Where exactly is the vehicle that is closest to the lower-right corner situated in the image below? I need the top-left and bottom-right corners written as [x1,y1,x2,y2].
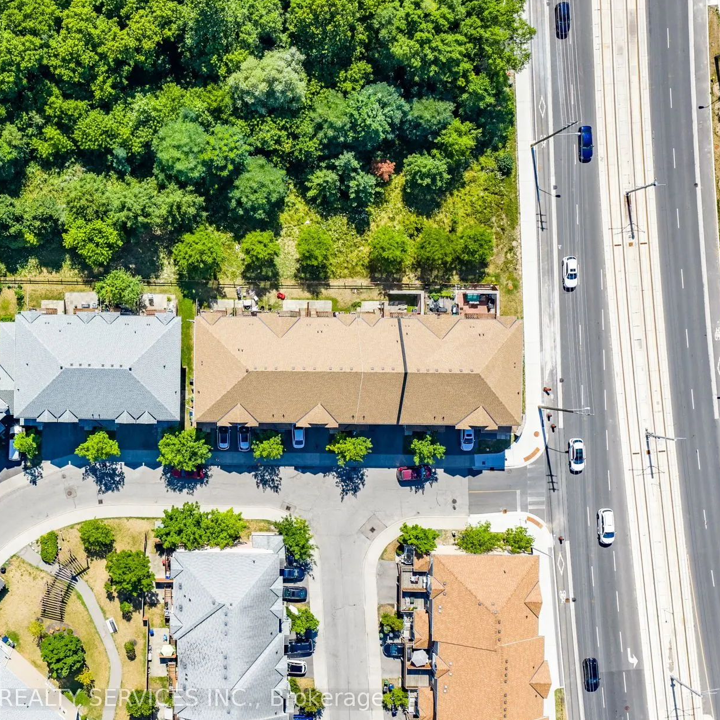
[581,655,601,692]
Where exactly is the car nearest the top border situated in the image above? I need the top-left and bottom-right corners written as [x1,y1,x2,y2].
[553,0,572,38]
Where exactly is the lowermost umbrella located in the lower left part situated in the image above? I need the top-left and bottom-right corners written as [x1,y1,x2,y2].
[160,642,175,658]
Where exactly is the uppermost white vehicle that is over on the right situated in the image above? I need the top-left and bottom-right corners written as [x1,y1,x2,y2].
[560,254,579,289]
